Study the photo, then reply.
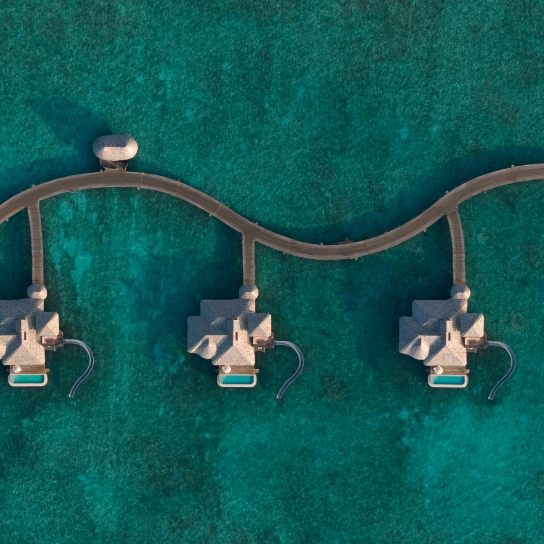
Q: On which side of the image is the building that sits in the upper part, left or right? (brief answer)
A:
left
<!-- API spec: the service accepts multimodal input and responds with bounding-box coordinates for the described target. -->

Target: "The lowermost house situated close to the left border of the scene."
[0,284,72,375]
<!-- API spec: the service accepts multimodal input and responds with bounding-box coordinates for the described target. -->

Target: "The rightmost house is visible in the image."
[400,285,493,376]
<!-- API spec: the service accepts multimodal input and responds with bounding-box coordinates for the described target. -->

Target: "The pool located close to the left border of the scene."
[7,373,48,387]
